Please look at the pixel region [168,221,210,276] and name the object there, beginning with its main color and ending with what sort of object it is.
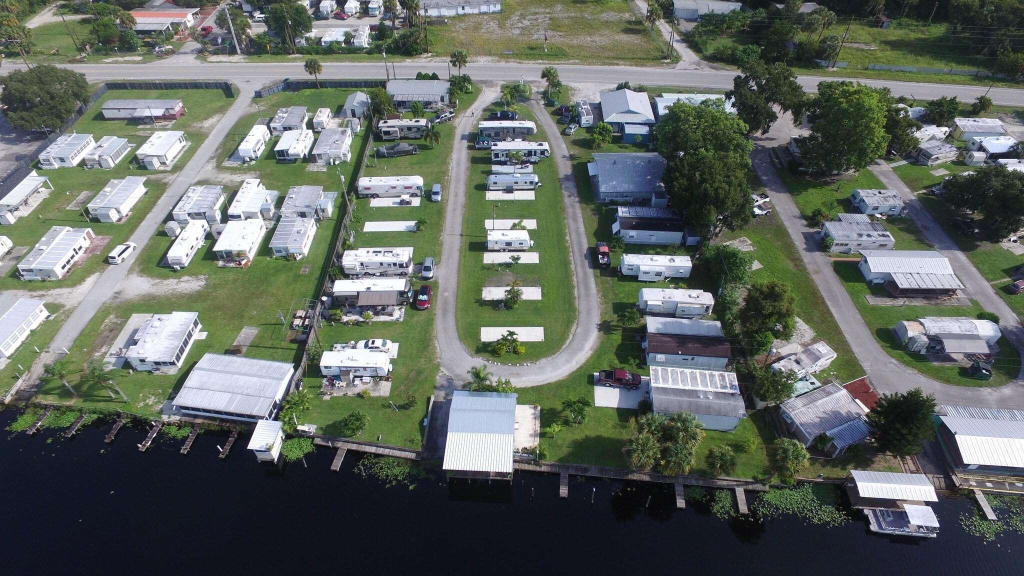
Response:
white trailer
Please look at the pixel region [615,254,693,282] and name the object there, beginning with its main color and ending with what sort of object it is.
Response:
white trailer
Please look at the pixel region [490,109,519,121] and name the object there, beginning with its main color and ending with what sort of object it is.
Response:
black vehicle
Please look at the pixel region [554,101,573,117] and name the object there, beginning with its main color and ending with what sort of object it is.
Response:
black car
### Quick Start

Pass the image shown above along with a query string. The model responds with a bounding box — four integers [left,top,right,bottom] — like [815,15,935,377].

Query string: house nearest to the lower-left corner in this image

[0,296,50,361]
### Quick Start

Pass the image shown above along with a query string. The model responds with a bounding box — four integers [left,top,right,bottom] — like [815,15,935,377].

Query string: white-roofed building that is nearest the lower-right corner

[934,405,1024,477]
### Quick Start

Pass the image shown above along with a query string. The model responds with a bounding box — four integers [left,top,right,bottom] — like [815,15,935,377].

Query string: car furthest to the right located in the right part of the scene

[1003,275,1024,299]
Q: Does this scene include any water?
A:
Yes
